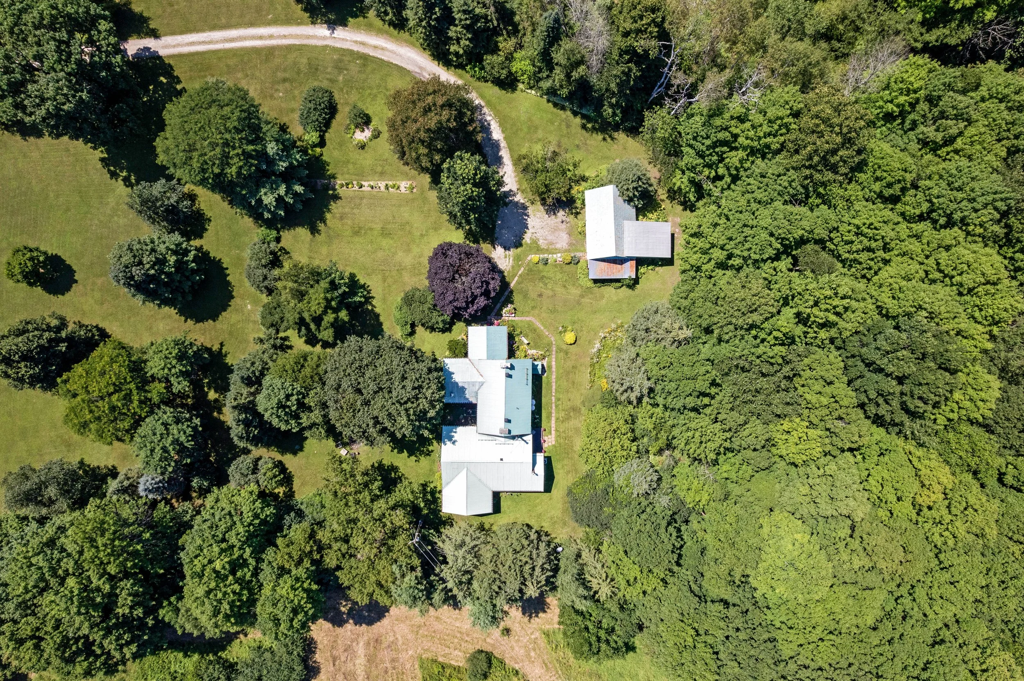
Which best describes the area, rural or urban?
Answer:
rural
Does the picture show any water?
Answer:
No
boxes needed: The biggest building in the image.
[441,326,547,516]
